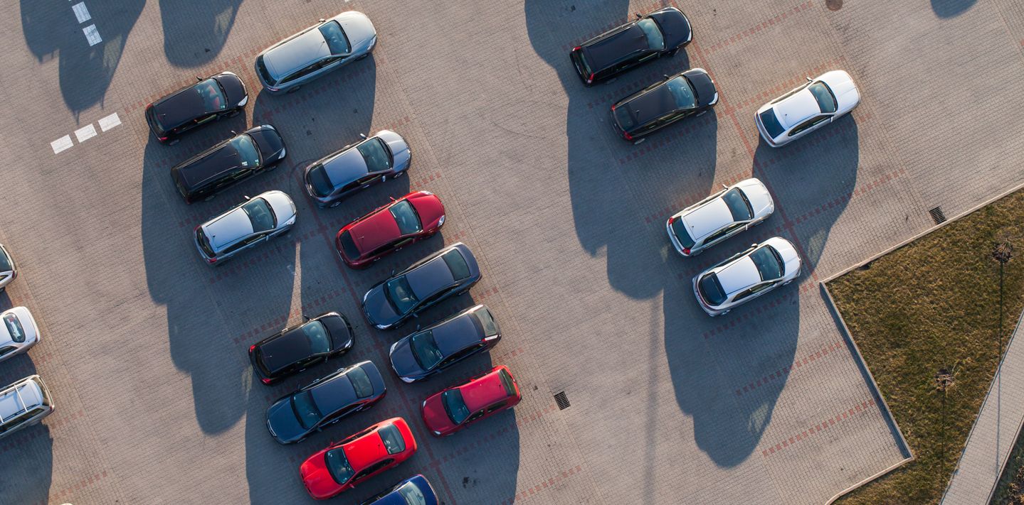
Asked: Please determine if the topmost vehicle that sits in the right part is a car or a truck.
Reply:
car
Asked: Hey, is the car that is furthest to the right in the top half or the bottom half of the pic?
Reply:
top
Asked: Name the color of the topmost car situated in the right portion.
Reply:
black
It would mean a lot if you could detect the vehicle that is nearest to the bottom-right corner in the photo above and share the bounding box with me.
[695,244,805,317]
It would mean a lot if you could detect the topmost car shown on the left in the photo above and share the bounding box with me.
[255,12,379,96]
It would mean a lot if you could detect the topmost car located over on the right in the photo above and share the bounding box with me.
[573,11,694,89]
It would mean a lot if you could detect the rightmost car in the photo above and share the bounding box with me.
[755,77,863,149]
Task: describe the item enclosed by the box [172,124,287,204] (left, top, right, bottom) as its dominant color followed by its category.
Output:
black car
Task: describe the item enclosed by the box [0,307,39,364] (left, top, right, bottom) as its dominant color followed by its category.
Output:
white car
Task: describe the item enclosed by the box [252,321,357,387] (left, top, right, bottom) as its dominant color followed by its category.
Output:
black car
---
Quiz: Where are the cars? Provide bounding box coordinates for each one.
[255,12,379,96]
[0,242,18,289]
[755,77,863,149]
[0,371,53,435]
[349,471,440,505]
[363,240,482,329]
[389,303,503,384]
[197,192,299,264]
[147,72,249,144]
[610,71,720,145]
[668,182,777,258]
[172,124,287,204]
[420,365,523,438]
[334,195,448,273]
[267,358,387,445]
[252,321,357,387]
[300,415,417,499]
[305,134,414,208]
[0,307,39,364]
[695,244,805,317]
[573,11,694,89]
